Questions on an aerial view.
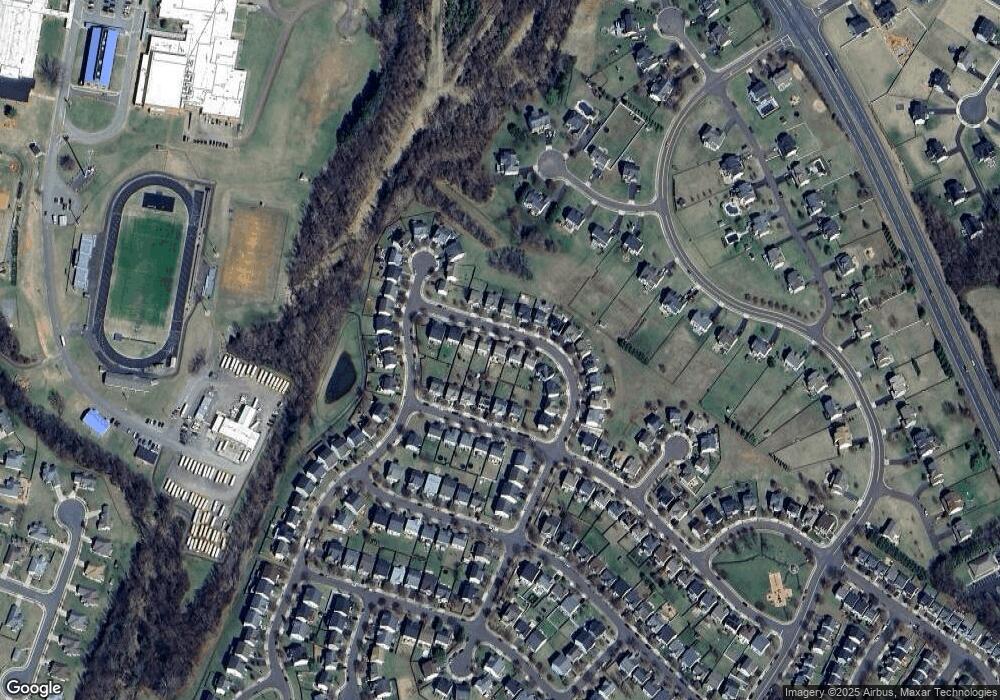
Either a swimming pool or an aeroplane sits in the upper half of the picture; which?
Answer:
swimming pool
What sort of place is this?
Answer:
residential area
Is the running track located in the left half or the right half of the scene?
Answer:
left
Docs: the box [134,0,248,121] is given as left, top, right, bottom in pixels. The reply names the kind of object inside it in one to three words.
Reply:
building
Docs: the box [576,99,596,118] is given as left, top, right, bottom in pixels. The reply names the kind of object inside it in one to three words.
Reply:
swimming pool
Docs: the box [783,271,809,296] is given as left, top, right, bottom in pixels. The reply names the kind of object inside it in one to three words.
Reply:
house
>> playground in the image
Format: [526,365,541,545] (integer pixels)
[768,571,792,607]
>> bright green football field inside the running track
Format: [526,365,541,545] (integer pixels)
[109,216,183,329]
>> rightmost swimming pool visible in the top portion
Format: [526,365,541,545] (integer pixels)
[809,158,827,177]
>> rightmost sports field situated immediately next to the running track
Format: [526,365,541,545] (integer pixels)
[219,204,288,303]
